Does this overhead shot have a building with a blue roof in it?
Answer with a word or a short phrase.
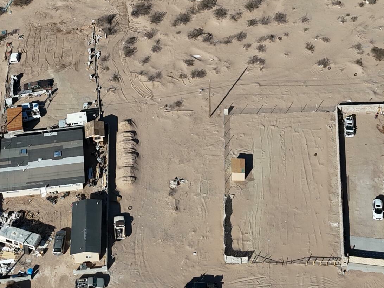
No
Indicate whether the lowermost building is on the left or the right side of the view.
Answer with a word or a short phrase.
left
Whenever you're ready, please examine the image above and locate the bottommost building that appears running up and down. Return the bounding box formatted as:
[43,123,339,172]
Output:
[70,196,102,263]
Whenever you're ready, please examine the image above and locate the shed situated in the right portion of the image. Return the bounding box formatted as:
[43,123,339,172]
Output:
[231,157,245,182]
